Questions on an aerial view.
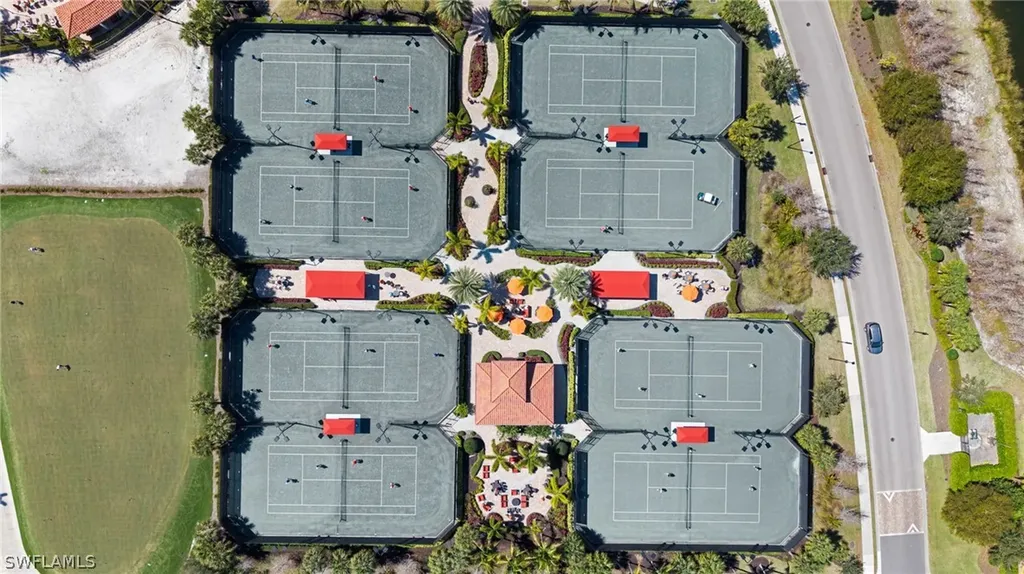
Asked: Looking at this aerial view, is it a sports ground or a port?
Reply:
sports ground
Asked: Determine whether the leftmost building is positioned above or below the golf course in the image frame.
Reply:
above it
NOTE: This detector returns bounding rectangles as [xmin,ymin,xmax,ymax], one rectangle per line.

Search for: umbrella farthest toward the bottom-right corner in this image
[682,284,699,301]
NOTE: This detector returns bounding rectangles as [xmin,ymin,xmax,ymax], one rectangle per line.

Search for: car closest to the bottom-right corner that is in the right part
[865,323,883,353]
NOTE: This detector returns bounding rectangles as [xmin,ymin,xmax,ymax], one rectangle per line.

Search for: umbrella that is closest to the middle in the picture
[508,277,524,294]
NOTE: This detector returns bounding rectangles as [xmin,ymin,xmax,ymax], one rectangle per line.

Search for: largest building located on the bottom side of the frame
[475,359,554,425]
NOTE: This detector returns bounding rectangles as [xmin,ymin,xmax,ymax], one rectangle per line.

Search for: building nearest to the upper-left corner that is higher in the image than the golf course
[50,0,154,42]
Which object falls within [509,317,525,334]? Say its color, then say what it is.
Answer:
orange umbrella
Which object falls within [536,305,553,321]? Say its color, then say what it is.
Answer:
orange umbrella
